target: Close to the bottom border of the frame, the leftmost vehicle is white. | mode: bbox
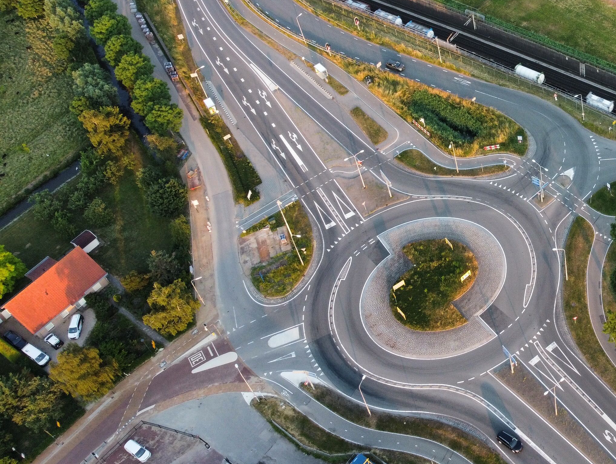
[124,439,150,463]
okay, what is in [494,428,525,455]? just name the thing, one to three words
car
